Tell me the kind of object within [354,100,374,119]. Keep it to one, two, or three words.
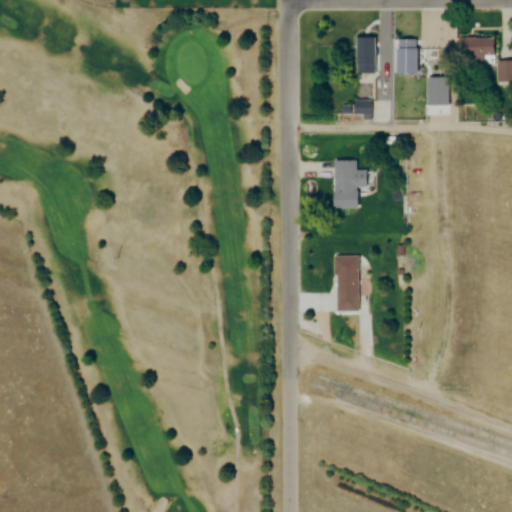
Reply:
building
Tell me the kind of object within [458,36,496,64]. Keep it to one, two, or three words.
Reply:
house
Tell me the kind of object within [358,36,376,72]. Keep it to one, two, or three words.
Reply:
house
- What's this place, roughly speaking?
golf course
